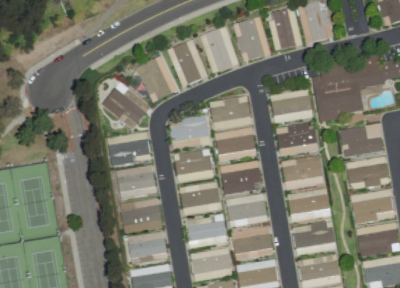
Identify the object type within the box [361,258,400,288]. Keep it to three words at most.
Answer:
house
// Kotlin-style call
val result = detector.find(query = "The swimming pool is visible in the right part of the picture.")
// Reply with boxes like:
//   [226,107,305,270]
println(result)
[369,89,396,110]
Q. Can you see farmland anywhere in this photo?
No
